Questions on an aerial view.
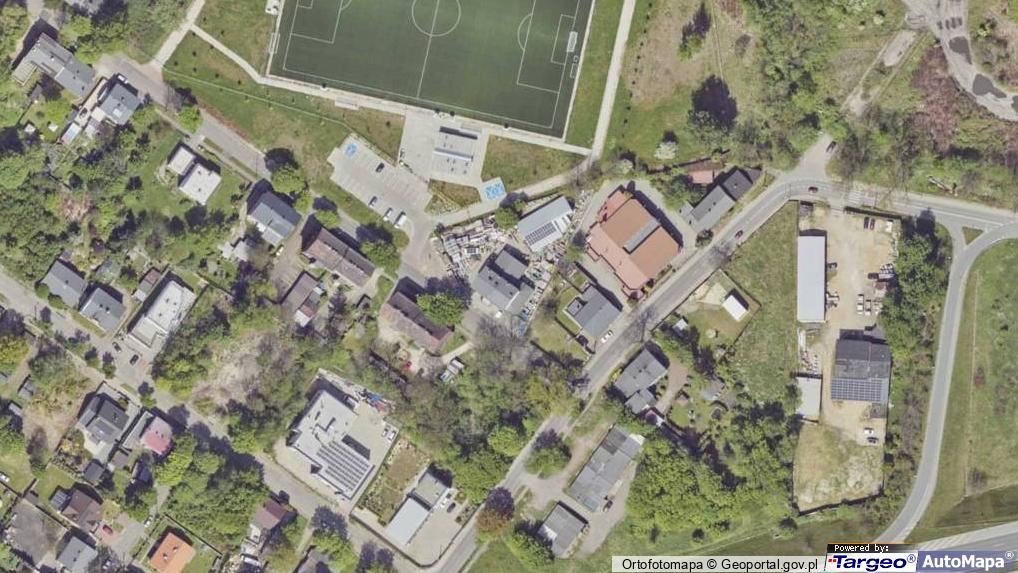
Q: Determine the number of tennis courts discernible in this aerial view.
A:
none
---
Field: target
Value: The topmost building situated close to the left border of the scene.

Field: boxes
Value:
[11,32,94,90]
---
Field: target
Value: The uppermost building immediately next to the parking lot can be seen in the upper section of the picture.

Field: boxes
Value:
[431,127,477,175]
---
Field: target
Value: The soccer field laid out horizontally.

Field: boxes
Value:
[266,0,594,139]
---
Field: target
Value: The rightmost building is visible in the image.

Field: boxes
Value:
[832,327,893,419]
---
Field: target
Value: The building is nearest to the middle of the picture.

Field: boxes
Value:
[471,250,535,316]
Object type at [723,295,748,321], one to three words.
shed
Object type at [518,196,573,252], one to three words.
building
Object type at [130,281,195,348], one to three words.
building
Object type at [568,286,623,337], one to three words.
house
